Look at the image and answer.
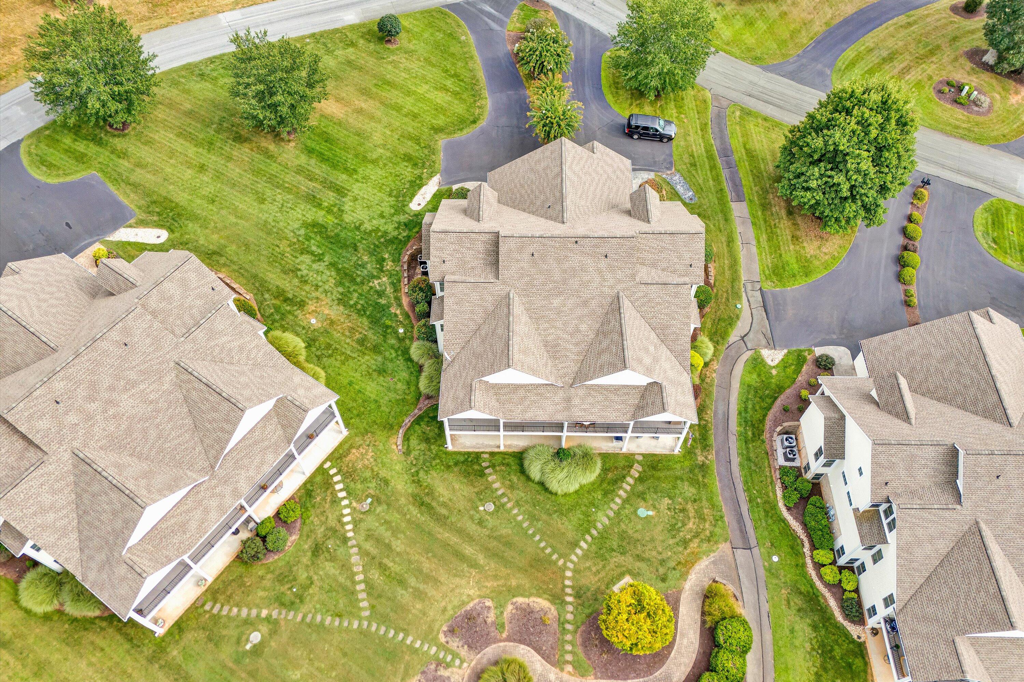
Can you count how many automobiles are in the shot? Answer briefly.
one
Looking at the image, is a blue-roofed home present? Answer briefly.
No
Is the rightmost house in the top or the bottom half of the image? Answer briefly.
bottom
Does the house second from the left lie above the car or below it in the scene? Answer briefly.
below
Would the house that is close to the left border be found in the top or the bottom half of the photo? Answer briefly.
bottom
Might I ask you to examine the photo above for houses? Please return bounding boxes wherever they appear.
[421,137,706,456]
[796,306,1024,682]
[0,249,352,641]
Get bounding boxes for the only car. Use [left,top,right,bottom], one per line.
[623,113,677,144]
